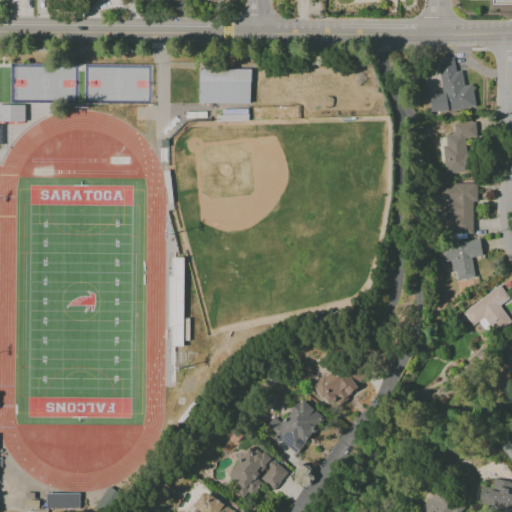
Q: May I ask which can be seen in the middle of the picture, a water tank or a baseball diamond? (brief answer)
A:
baseball diamond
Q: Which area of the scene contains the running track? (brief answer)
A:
left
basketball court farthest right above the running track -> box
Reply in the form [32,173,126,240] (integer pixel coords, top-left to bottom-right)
[86,64,152,103]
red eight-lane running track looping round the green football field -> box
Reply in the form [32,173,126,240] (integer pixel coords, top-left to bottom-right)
[0,111,166,492]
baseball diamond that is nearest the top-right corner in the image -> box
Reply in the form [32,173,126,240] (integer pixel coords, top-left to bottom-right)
[173,113,396,338]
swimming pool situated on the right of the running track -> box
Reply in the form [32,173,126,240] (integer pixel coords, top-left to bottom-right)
[214,458,232,480]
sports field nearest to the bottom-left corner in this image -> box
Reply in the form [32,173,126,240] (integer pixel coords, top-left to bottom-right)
[16,178,147,425]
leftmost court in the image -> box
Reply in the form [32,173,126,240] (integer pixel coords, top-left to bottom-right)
[12,64,78,102]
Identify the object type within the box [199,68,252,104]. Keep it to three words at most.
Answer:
building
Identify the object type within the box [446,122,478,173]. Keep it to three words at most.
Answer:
house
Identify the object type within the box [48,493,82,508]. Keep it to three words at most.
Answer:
shed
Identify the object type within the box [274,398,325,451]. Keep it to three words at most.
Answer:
house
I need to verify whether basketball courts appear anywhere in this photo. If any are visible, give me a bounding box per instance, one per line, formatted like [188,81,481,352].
[86,64,152,103]
[12,64,78,102]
